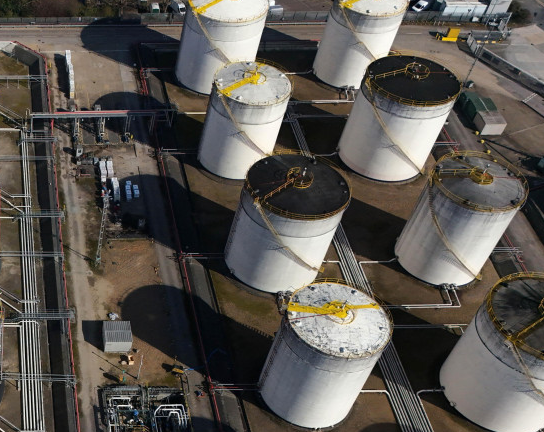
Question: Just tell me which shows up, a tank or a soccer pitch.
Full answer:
The one in the frame is a tank.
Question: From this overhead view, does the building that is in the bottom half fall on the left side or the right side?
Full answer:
It is on the left.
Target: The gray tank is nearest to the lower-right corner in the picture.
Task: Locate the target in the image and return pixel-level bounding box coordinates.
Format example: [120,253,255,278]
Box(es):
[420,271,544,432]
